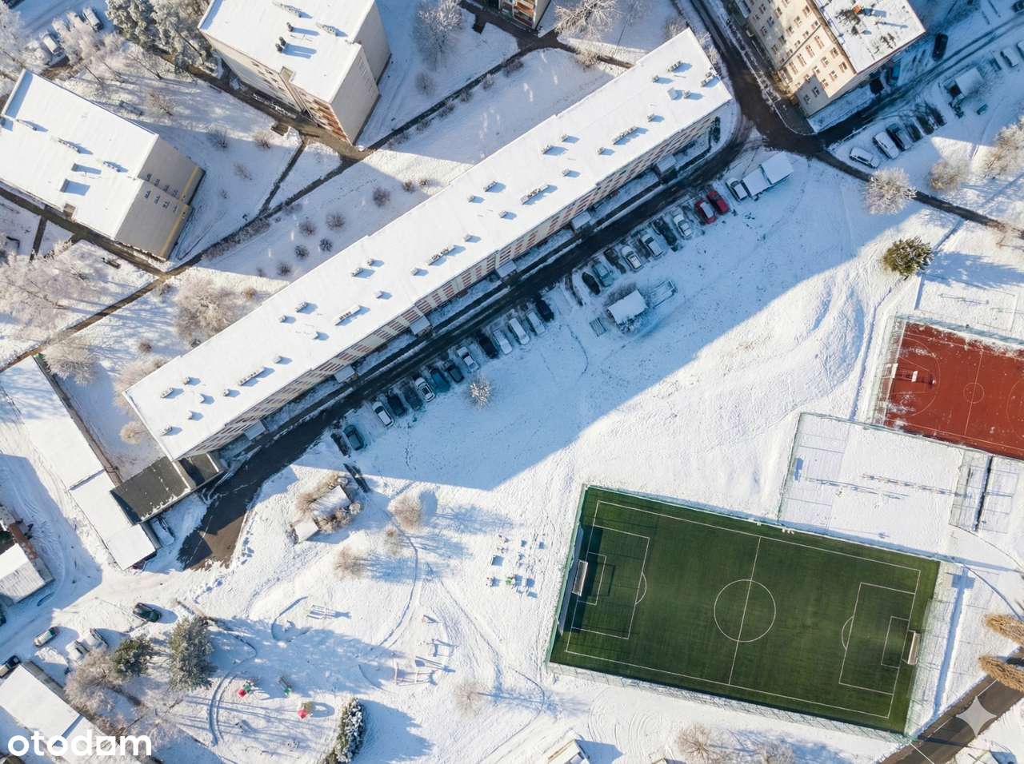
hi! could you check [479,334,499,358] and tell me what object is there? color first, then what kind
black car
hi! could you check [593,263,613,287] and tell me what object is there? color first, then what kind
blue car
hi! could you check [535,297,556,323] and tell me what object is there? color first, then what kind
black car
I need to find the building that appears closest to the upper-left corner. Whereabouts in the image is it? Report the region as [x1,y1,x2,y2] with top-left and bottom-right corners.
[0,61,205,257]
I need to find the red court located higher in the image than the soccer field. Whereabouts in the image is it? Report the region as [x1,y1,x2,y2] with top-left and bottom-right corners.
[872,320,1024,458]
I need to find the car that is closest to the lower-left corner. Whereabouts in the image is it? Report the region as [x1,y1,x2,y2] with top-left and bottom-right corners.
[0,654,22,677]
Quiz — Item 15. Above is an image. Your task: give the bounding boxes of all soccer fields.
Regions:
[549,485,940,736]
